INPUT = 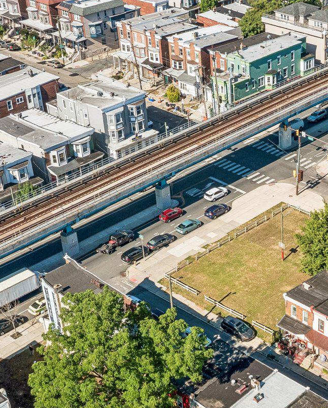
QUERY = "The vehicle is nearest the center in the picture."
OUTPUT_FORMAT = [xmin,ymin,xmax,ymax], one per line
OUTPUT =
[156,208,184,224]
